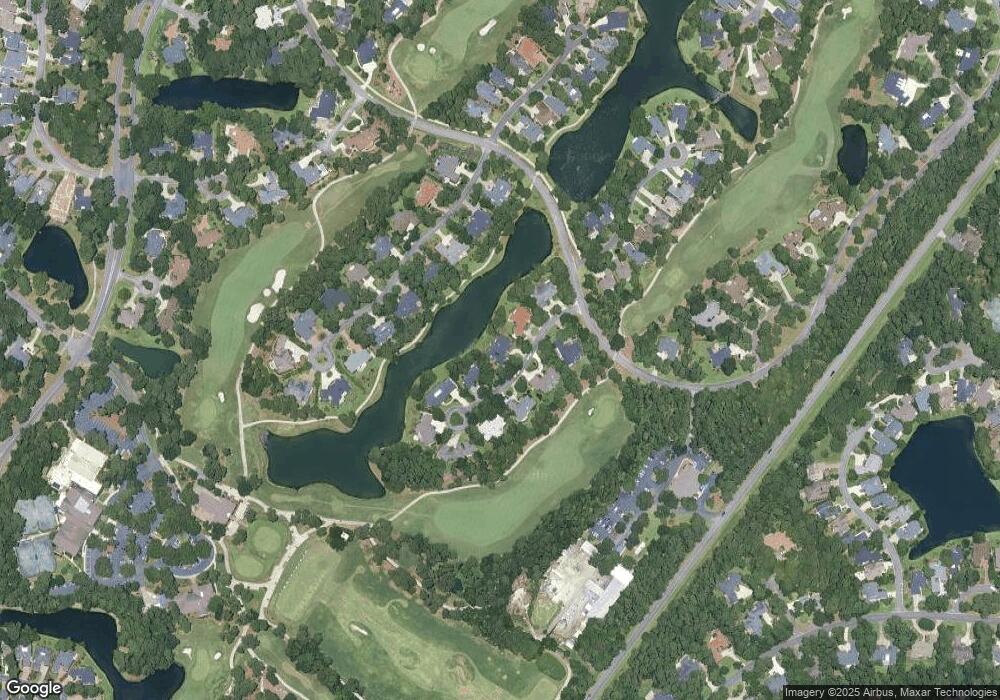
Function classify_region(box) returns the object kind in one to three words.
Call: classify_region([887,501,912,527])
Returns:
house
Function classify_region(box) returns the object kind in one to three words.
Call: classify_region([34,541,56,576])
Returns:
tennis court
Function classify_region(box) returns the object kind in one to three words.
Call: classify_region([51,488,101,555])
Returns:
building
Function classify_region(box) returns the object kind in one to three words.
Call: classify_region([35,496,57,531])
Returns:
tennis court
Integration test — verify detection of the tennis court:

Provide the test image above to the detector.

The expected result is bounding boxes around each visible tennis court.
[17,544,38,579]
[35,496,57,531]
[18,499,39,534]
[34,541,56,576]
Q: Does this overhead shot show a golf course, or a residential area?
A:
residential area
